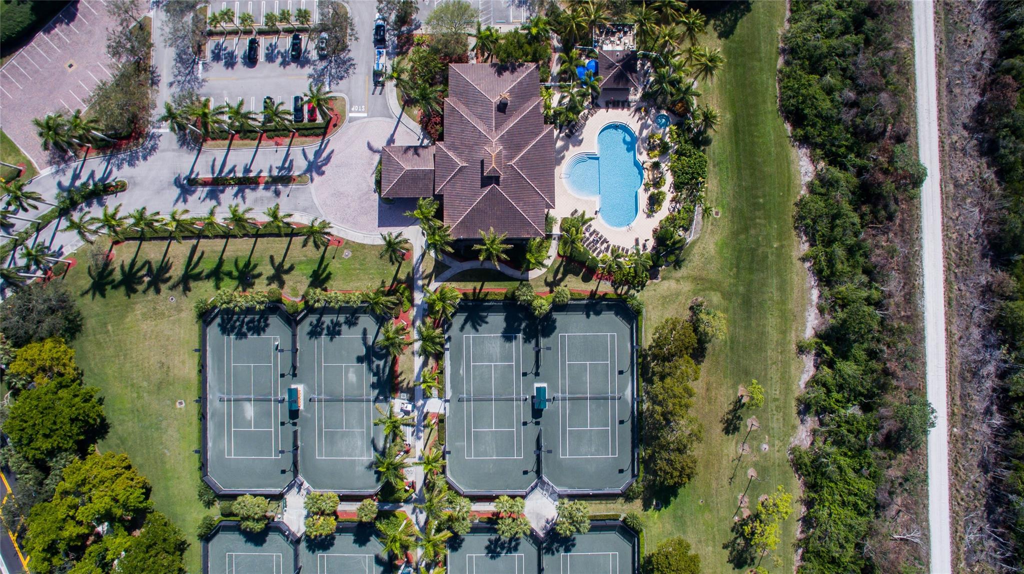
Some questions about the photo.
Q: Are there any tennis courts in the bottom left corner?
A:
Yes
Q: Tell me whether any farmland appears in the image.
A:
No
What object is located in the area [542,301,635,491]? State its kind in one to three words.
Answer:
tennis court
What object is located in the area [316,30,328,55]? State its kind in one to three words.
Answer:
vehicle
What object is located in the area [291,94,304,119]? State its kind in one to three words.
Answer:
vehicle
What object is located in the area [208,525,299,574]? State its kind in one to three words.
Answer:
tennis court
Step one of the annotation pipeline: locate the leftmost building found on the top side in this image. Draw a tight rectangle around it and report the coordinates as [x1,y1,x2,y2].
[381,62,556,238]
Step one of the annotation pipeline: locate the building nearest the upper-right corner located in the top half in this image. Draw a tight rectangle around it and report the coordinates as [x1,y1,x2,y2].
[598,49,638,90]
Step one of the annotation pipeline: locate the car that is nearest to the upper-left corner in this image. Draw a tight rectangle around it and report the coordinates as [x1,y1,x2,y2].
[244,36,258,62]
